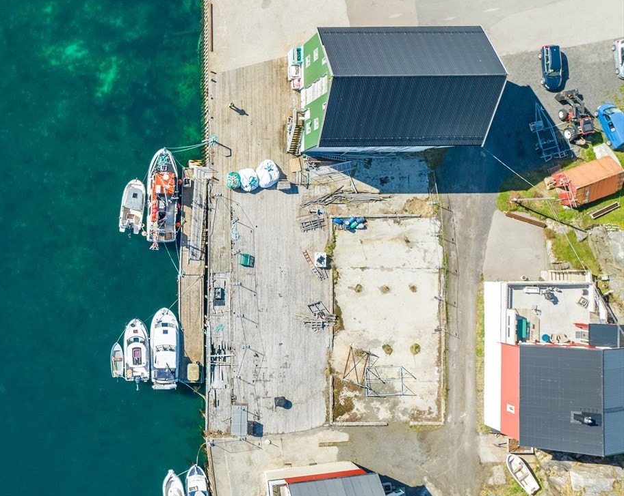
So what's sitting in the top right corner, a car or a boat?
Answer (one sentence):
The one visible in the top right corner is a car.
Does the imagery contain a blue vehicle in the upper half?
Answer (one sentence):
Yes, a blue vehicle appears in the upper half.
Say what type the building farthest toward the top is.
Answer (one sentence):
From above, the building farthest toward the top can be identified as a warehouse.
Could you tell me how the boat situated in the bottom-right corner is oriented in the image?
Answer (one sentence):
From this overhead view, the boat situated in the bottom-right corner appears to run diagonally.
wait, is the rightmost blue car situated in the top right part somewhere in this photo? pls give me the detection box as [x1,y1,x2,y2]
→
[596,101,624,147]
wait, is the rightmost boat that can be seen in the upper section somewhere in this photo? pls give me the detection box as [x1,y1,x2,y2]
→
[146,148,183,249]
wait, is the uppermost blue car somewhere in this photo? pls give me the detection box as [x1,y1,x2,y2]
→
[536,43,565,92]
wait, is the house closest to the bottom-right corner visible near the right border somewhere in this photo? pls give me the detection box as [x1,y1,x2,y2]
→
[484,270,624,459]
